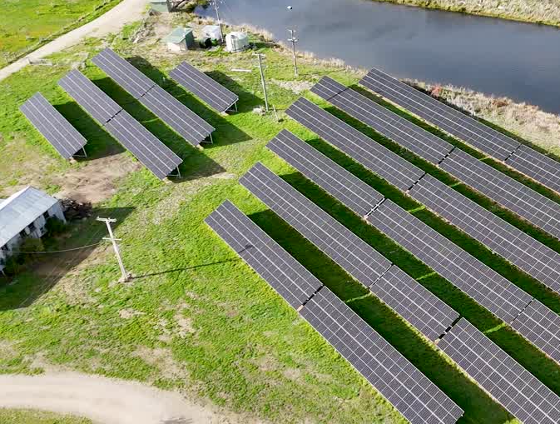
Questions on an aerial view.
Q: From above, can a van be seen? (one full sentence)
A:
No, the scene contains no van.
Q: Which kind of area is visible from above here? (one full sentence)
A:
It's a solar farm.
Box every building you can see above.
[163,26,200,51]
[0,188,63,270]
[148,0,175,11]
